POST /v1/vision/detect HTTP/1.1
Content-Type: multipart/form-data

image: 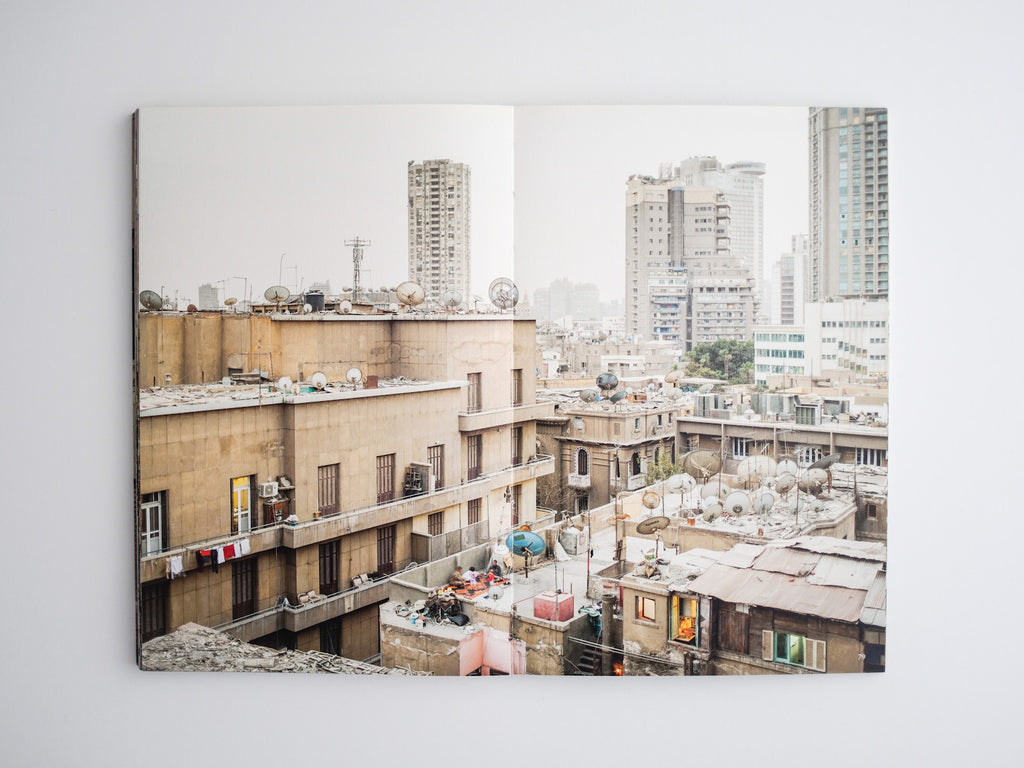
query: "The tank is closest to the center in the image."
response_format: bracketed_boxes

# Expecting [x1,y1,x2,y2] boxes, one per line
[560,509,588,554]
